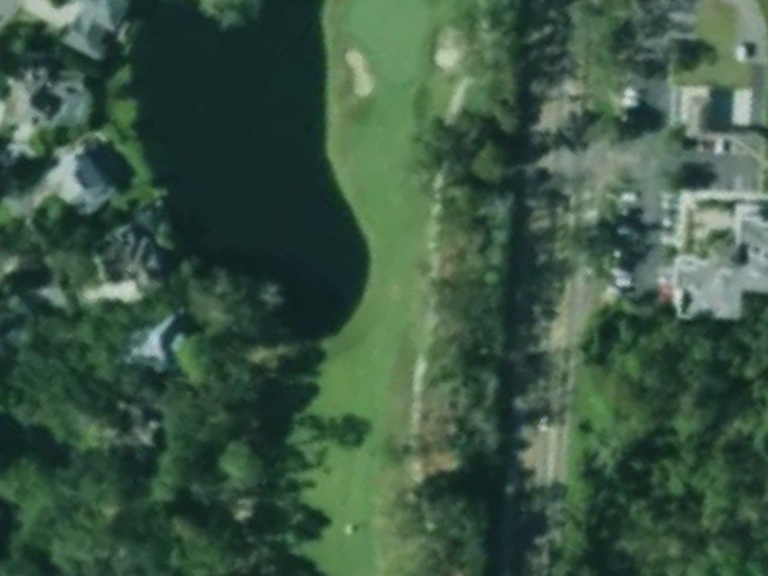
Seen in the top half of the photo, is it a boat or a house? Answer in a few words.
house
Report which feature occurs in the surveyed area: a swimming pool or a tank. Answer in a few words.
swimming pool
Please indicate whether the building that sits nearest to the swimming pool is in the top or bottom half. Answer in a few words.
top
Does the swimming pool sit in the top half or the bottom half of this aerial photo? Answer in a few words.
top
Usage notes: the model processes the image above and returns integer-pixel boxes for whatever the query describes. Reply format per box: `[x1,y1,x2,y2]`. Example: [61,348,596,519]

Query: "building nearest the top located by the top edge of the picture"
[62,0,130,54]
